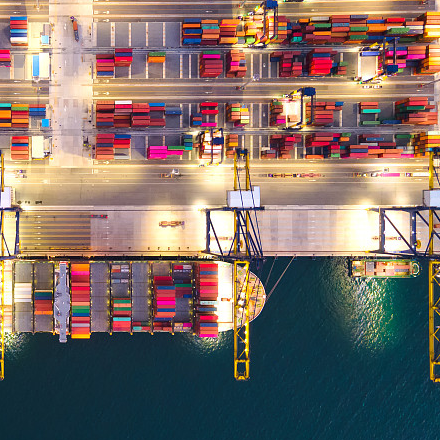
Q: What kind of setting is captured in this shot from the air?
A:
port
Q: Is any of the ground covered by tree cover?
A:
No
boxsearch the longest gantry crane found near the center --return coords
[196,148,267,382]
